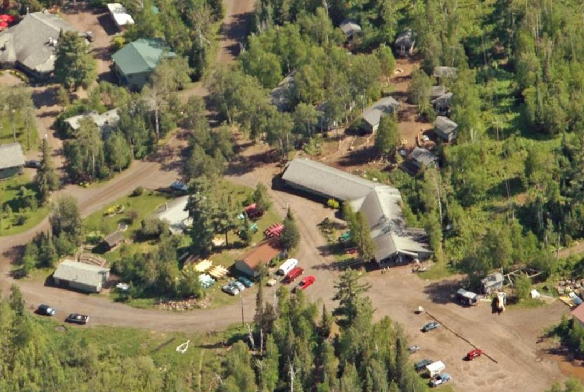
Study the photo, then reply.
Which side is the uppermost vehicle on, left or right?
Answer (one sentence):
The uppermost vehicle appears in the left half of the scene.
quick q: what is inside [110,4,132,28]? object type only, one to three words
vehicle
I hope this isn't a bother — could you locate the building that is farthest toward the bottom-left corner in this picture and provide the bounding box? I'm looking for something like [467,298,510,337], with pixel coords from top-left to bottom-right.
[54,256,115,292]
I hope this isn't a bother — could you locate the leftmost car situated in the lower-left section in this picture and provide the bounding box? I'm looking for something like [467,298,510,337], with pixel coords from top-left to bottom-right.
[36,304,57,316]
